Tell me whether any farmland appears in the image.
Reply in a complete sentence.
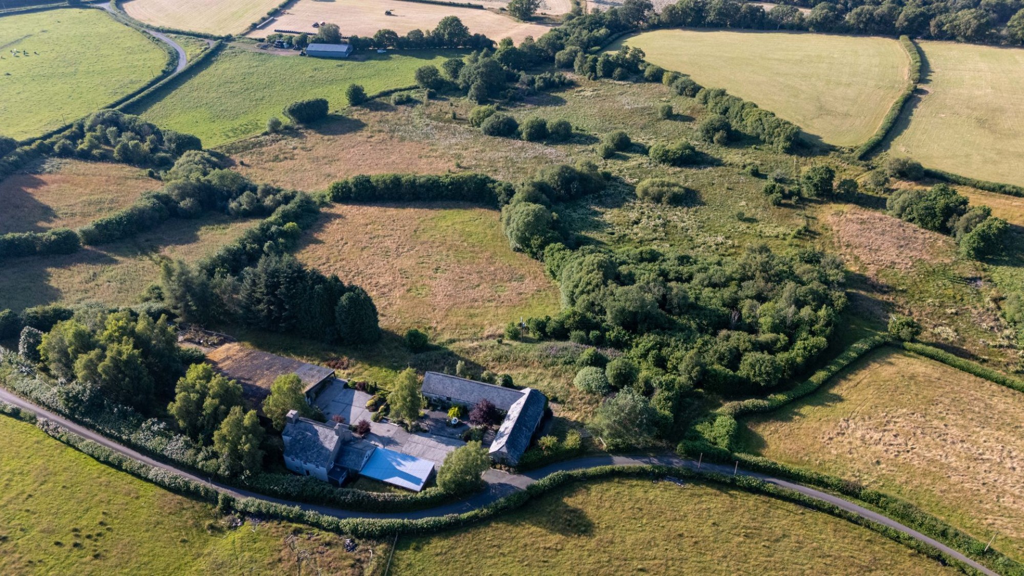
Yes, there's farmland in this view.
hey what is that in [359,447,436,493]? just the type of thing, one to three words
building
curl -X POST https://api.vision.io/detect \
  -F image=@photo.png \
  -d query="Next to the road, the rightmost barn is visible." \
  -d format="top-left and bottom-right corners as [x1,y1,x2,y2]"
[422,372,549,470]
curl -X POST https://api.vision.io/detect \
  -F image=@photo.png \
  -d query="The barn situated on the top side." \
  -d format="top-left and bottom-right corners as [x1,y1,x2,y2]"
[305,44,351,57]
